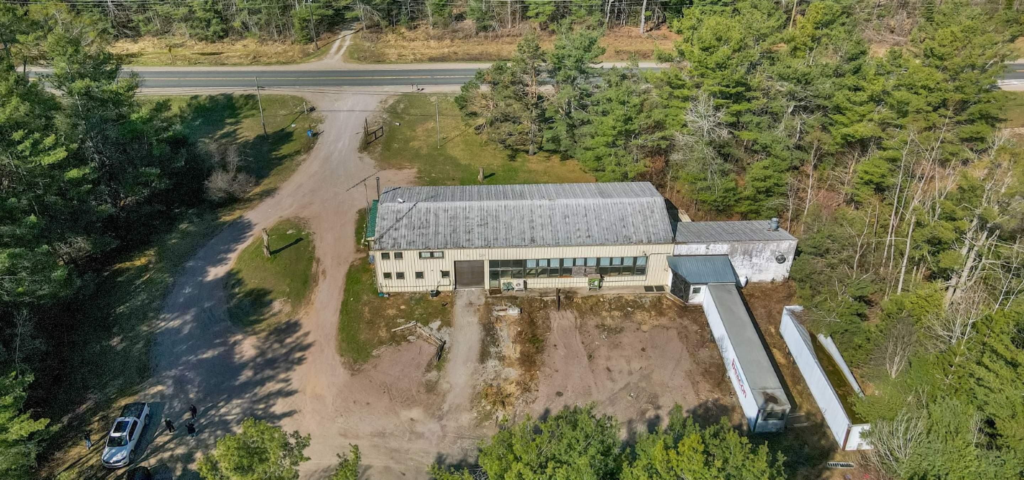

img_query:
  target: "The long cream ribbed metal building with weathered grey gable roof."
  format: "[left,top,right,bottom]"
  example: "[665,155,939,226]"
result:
[361,168,677,298]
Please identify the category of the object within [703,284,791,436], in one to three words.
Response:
trailer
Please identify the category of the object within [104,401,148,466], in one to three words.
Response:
truck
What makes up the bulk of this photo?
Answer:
trees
